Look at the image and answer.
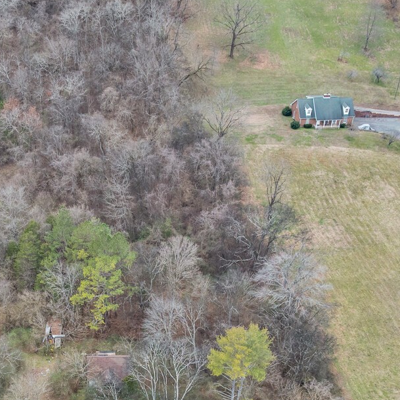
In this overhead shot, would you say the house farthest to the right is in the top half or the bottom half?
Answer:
top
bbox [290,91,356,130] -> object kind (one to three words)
house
